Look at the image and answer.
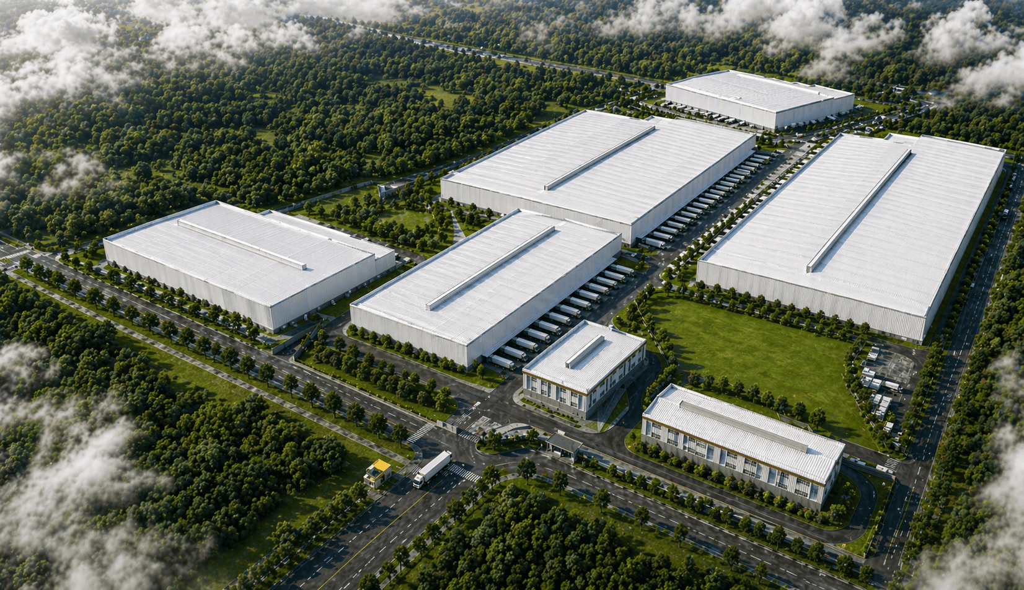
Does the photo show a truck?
Yes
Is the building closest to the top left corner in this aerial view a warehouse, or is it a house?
warehouse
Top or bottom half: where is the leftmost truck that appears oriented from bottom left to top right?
bottom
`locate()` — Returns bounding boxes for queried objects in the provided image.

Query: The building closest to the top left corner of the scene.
[101,201,399,333]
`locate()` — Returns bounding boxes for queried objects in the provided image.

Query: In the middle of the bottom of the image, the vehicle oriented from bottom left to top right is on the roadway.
[412,451,454,488]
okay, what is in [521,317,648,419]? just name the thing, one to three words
building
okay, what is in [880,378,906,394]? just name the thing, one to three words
vehicle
